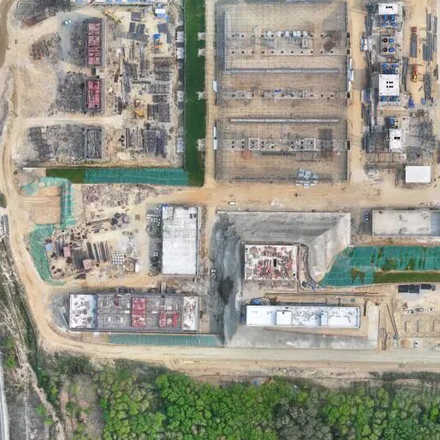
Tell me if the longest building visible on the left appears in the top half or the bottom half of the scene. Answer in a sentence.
The longest building visible on the left is in the bottom half of the image.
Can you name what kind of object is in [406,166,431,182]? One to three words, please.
building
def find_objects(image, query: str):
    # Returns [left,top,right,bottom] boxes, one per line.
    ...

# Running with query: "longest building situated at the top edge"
[370,1,404,114]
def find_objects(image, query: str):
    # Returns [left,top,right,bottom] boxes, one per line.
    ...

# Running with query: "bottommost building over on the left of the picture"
[70,294,199,329]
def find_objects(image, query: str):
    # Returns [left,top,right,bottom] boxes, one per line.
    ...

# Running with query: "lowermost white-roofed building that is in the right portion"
[247,305,360,326]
